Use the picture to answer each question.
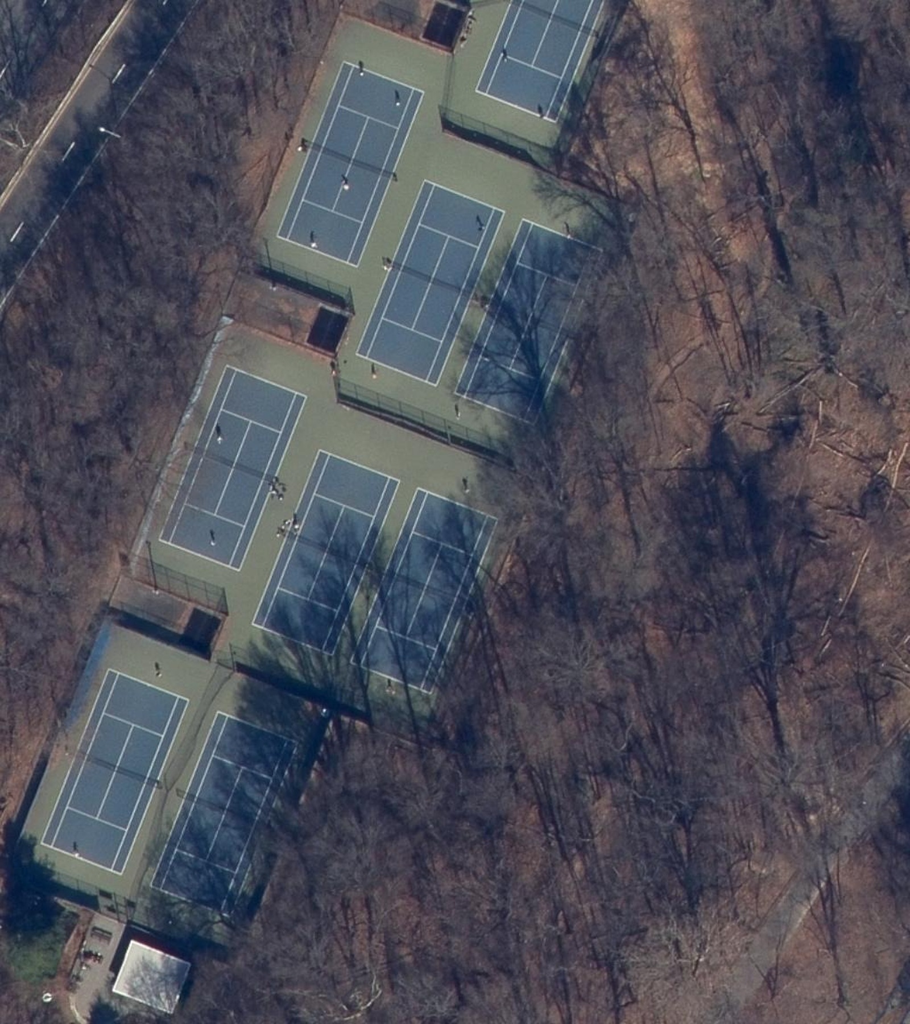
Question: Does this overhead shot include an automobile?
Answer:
No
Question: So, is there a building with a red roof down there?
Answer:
No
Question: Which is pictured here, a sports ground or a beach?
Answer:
sports ground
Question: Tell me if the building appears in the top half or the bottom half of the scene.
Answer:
bottom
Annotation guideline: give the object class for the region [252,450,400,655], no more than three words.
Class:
tennis court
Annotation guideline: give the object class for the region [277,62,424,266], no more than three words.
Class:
tennis court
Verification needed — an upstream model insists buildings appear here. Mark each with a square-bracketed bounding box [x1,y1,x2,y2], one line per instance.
[112,941,189,1014]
